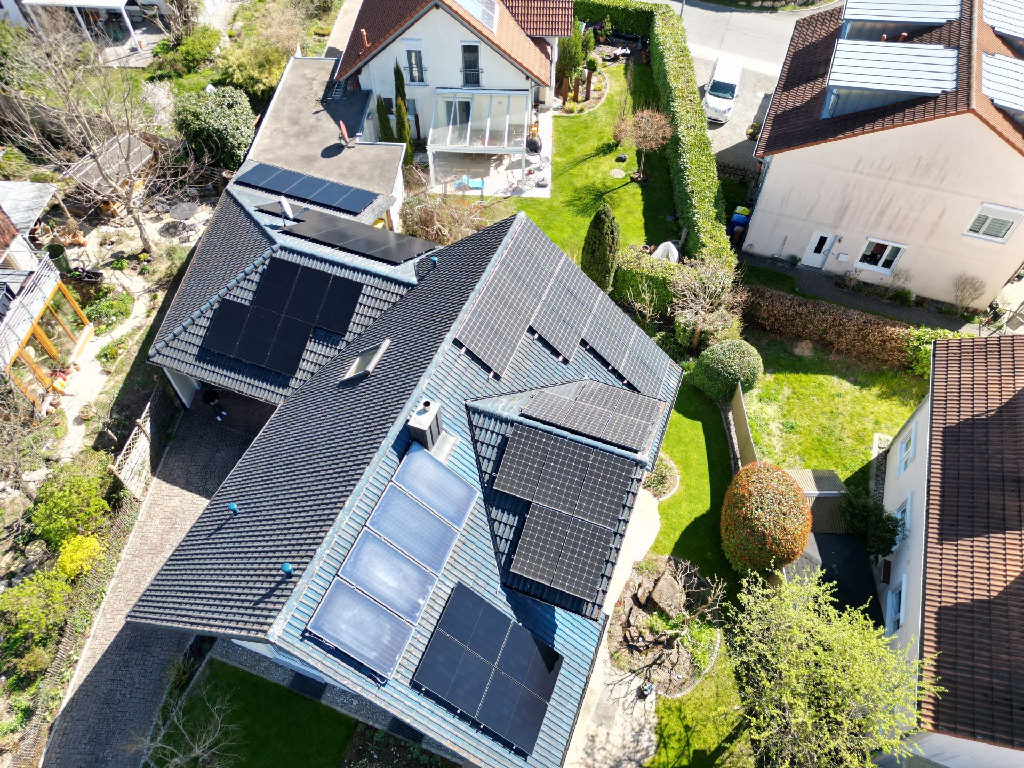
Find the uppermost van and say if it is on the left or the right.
right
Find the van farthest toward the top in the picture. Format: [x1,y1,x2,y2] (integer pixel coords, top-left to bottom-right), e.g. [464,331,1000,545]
[705,54,745,122]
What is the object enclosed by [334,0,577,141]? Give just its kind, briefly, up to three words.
house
